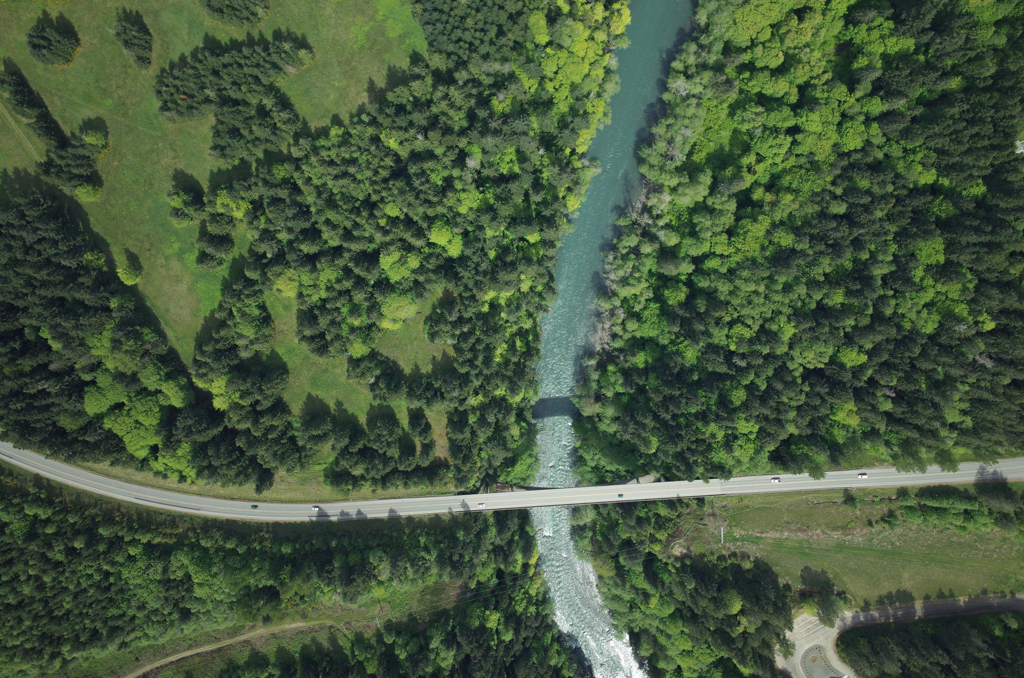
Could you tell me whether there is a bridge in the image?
Yes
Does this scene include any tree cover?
Yes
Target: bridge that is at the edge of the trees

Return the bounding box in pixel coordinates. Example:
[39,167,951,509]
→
[457,466,722,514]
